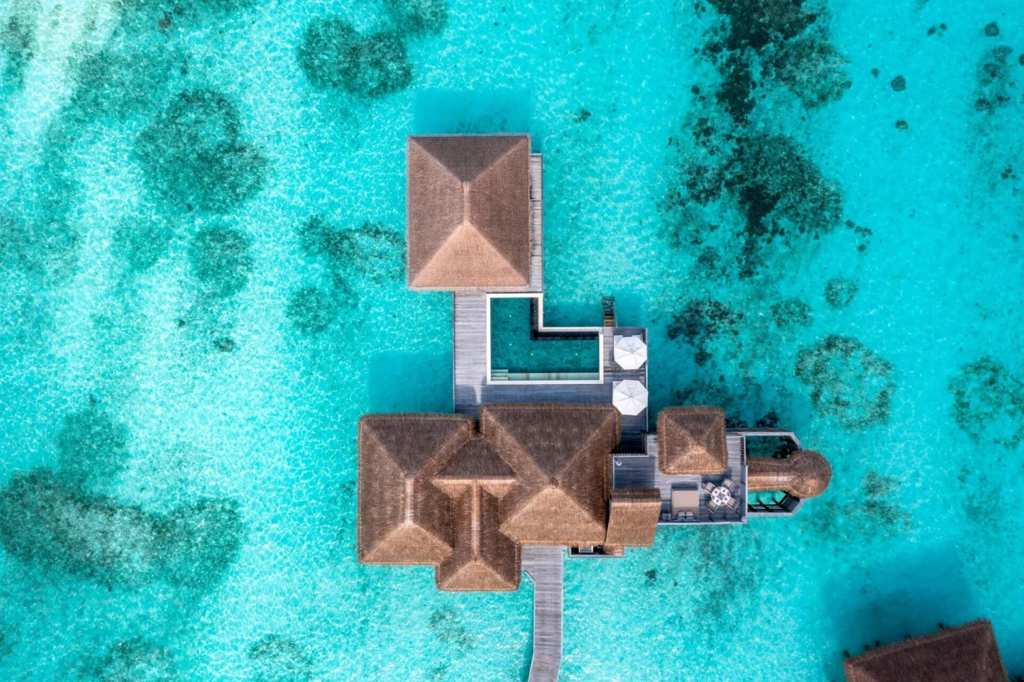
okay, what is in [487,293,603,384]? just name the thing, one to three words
swimming pool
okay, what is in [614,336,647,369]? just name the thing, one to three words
umbrella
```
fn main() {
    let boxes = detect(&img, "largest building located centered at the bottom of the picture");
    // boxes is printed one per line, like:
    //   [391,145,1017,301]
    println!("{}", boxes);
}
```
[357,401,662,593]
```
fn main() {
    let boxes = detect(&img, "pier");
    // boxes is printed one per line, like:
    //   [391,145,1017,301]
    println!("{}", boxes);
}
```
[521,547,564,682]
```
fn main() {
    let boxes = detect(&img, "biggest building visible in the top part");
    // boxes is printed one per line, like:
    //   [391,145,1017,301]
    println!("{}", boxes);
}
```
[405,132,534,294]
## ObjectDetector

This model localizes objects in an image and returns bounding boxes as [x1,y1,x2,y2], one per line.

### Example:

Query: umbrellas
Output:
[614,336,647,369]
[612,380,647,415]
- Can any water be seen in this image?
Yes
